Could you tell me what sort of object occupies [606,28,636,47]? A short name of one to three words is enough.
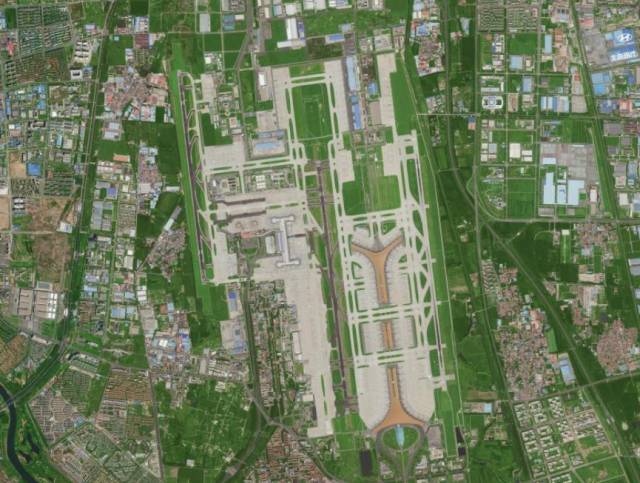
building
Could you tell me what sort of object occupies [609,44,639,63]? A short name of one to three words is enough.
building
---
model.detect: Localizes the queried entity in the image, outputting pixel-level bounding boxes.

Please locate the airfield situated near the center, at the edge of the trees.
[169,42,467,483]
